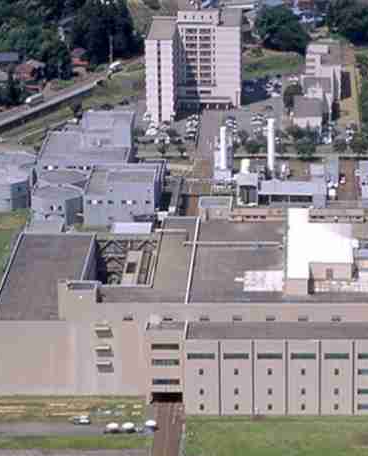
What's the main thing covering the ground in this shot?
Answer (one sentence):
For the most part, this view shows buildings.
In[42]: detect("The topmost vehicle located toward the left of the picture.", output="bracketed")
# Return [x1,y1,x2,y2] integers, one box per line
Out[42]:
[105,59,127,72]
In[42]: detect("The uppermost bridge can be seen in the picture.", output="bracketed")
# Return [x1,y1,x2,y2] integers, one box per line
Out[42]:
[0,80,105,134]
